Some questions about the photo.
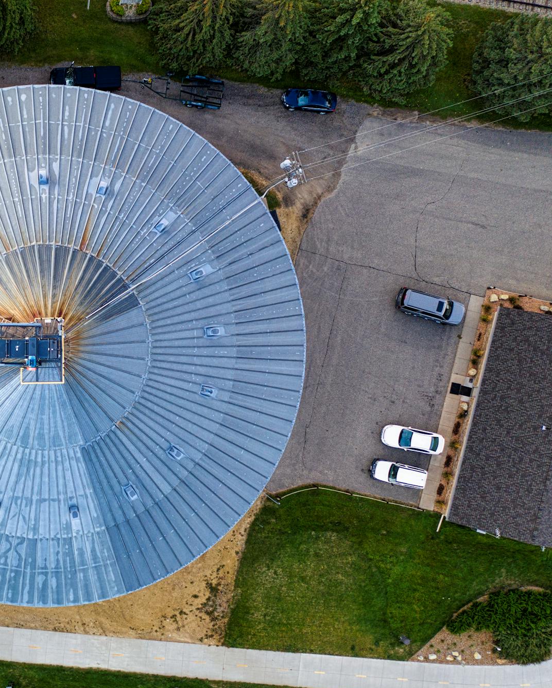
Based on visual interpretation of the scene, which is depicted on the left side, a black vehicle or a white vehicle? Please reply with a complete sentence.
There is a black vehicle on the left side.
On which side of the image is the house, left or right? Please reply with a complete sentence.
The house sits on the right side.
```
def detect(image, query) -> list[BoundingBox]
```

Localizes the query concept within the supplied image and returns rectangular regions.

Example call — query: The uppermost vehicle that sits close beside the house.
[392,286,465,324]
